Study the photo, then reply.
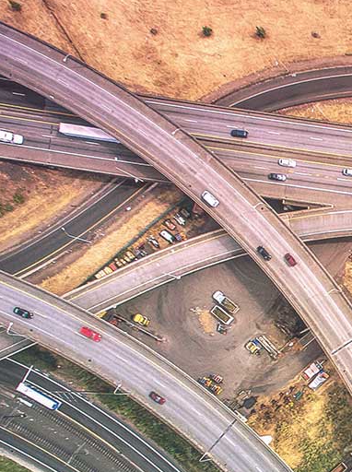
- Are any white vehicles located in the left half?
Yes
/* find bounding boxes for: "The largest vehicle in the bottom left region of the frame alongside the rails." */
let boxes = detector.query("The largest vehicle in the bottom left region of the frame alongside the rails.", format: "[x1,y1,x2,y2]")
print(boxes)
[12,381,59,409]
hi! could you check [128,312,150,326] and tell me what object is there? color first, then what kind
yellow work vehicle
